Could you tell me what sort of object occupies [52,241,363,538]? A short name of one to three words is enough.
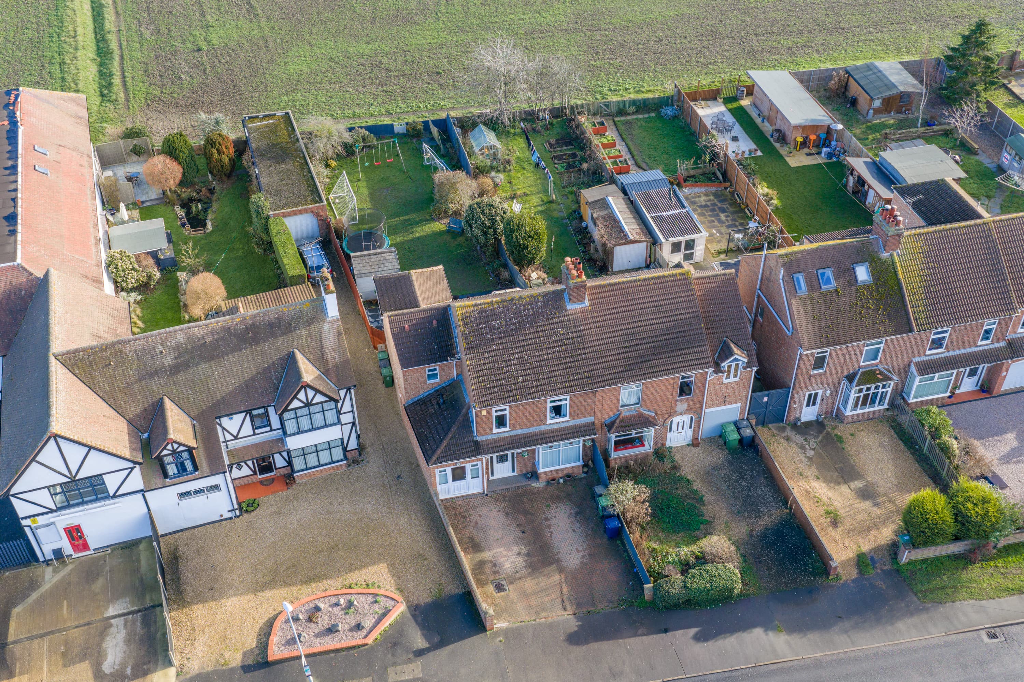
house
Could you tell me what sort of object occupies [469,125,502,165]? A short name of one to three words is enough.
greenhouse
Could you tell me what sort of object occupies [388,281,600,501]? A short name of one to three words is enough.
house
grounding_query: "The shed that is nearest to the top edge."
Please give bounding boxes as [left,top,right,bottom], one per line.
[839,59,927,123]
